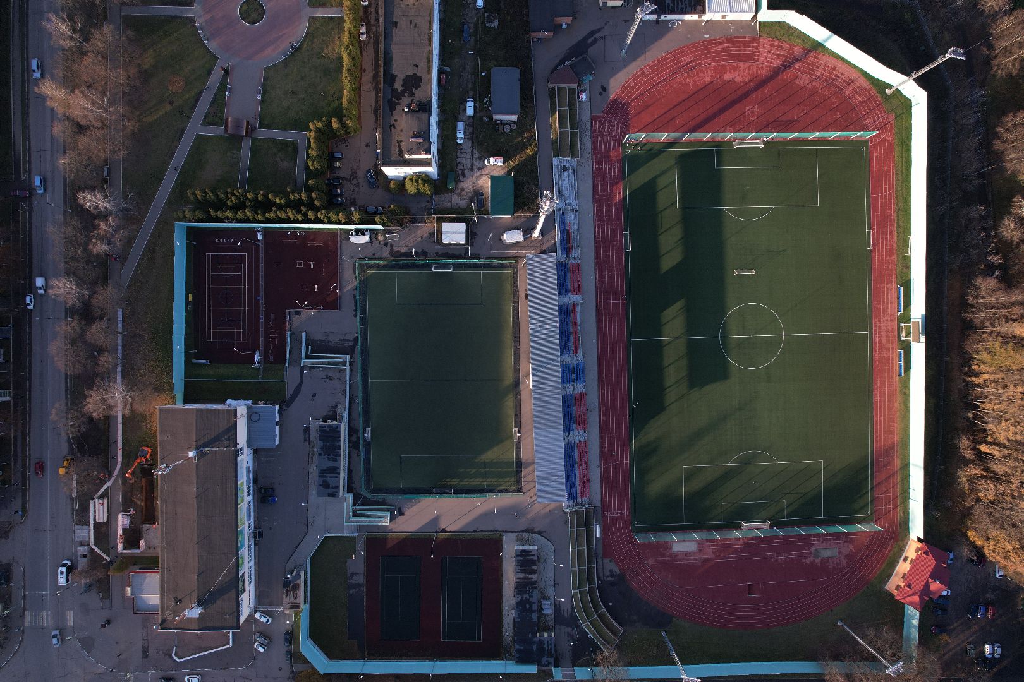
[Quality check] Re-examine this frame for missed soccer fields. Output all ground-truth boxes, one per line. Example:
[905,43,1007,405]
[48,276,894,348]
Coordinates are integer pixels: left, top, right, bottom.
[623,138,875,534]
[357,261,522,496]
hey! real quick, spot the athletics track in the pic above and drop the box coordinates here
[593,35,899,629]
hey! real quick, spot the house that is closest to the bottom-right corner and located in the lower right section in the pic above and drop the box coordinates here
[884,539,950,611]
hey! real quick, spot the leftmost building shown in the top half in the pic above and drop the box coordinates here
[374,0,441,176]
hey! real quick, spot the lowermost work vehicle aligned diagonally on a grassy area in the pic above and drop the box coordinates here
[126,447,151,480]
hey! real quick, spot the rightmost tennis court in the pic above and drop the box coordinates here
[442,556,482,642]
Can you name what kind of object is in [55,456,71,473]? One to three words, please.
work vehicle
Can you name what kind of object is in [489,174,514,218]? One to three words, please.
shed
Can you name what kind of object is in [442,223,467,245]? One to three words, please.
building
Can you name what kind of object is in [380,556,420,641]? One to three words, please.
tennis court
